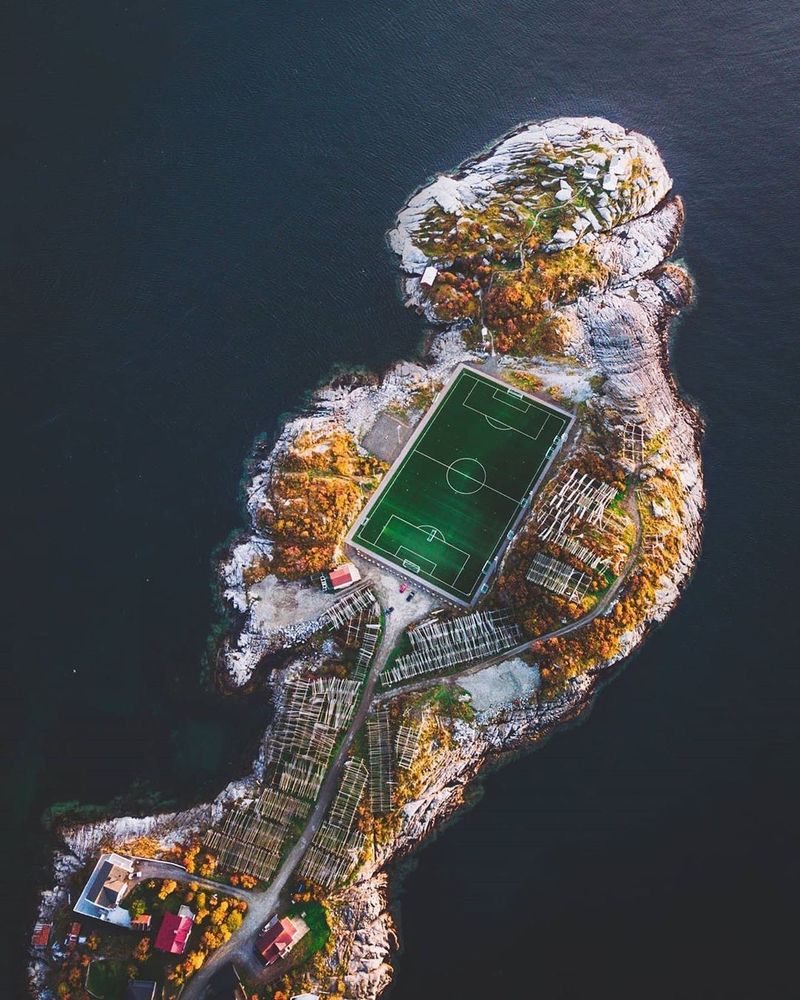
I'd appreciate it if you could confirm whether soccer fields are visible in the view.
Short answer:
Yes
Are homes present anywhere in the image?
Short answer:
Yes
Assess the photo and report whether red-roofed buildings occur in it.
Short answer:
Yes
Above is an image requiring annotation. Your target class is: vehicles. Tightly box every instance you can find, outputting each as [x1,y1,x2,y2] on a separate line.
[130,871,143,879]
[400,583,408,593]
[406,591,415,601]
[385,606,395,615]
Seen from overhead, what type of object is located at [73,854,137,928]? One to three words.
house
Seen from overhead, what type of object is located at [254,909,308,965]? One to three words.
house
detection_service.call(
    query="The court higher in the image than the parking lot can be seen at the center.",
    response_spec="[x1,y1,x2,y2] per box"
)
[361,412,410,464]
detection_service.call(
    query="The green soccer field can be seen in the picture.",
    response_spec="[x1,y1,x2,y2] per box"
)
[346,363,575,607]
